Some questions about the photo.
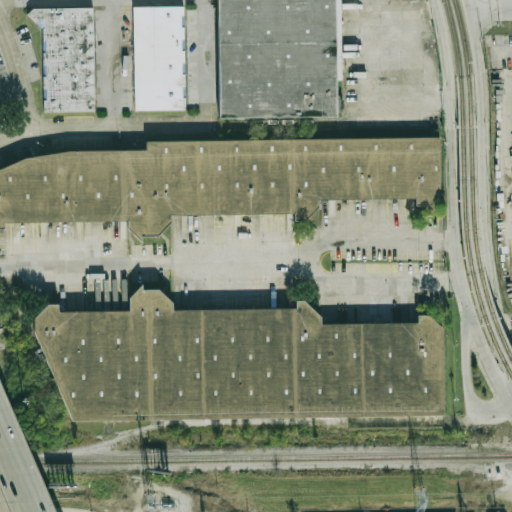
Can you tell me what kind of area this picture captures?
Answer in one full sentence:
The area seen from above is an industrial area.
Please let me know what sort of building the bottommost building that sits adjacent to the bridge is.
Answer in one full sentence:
It turns out the bottommost building that sits adjacent to the bridge is a warehouse.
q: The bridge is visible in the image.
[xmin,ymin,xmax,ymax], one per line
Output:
[0,382,58,512]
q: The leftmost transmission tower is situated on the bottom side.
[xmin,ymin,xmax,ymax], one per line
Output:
[413,486,428,508]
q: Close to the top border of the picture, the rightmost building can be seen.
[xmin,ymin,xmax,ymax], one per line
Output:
[220,0,343,120]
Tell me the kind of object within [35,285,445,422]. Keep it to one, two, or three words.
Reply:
warehouse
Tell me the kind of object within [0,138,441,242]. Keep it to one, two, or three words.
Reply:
building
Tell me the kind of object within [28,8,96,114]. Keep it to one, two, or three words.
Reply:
building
